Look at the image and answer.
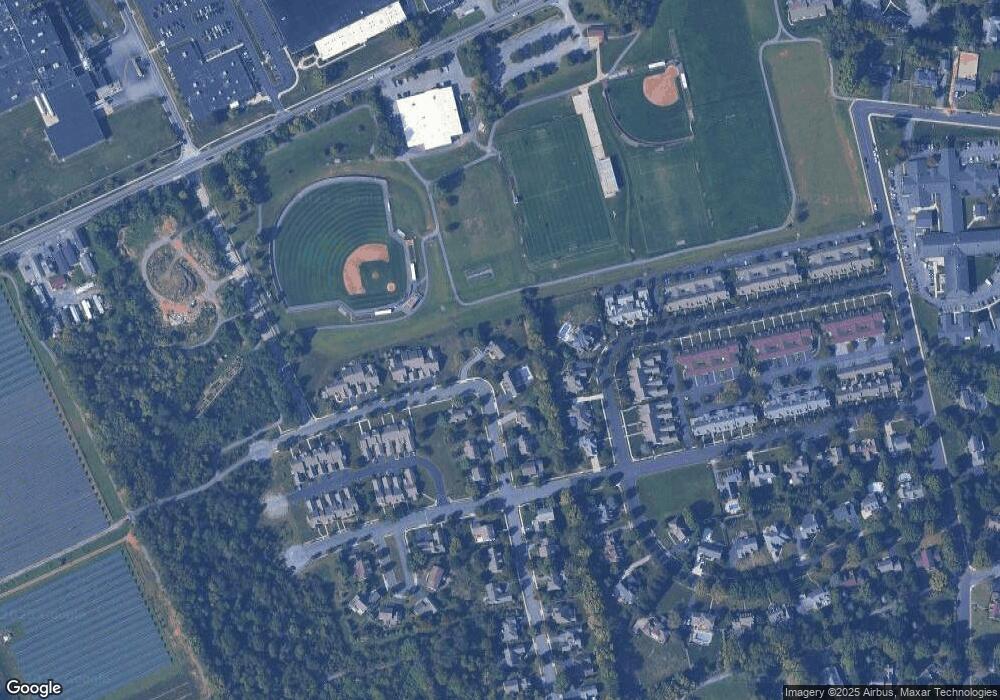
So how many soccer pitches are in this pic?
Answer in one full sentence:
The picture shows 3 soccer pitches.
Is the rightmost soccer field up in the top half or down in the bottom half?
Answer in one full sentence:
Seen from above, the rightmost soccer field lies in the top half of the view.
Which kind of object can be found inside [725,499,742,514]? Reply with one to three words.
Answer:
swimming pool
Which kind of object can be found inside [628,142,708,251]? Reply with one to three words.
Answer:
soccer field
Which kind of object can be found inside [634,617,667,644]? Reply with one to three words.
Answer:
house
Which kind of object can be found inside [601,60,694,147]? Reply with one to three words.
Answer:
baseball field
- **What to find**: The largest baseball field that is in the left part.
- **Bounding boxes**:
[273,177,411,312]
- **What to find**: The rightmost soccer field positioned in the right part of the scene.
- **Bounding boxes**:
[701,111,783,232]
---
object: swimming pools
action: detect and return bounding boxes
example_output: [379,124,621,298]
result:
[559,321,571,341]
[691,632,713,643]
[899,473,910,481]
[725,499,742,514]
[519,365,532,380]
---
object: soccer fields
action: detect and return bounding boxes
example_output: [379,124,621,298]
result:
[628,142,708,251]
[701,111,783,232]
[509,124,603,260]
